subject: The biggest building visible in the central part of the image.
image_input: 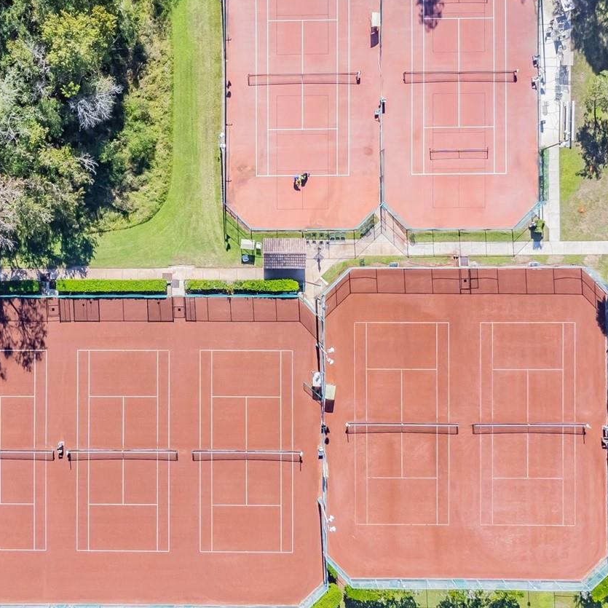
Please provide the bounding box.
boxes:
[263,238,306,270]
